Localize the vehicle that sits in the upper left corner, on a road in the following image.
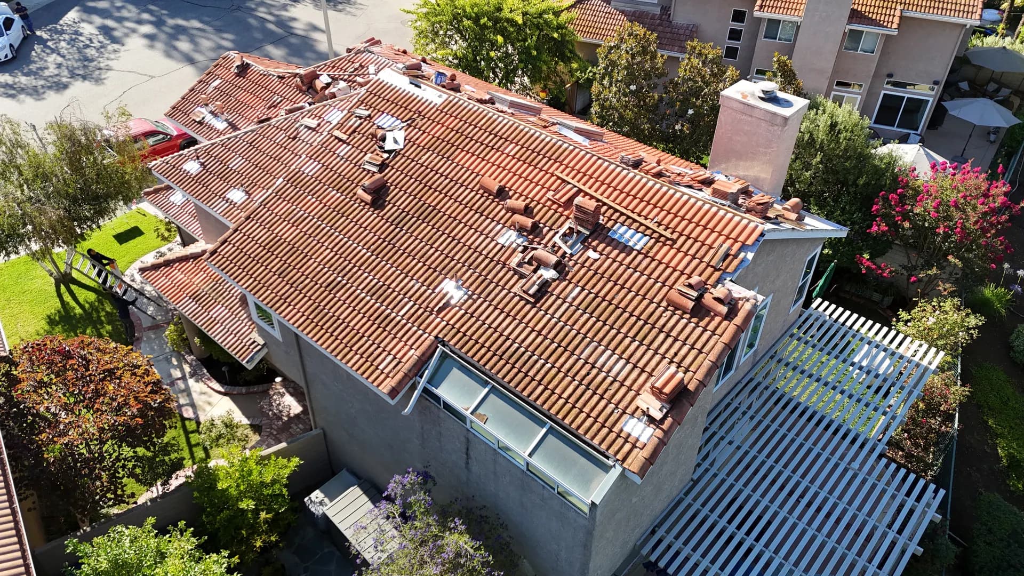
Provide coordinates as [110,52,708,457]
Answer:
[0,12,31,59]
